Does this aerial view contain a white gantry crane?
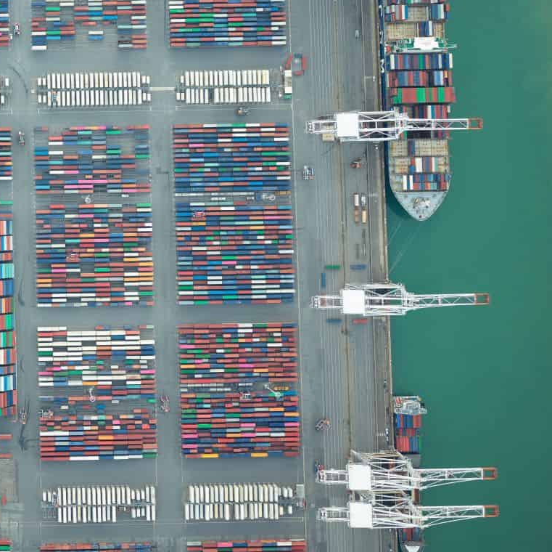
Yes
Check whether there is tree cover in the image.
No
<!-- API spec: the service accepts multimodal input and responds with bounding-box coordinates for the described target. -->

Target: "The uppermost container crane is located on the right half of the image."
[304,110,486,146]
